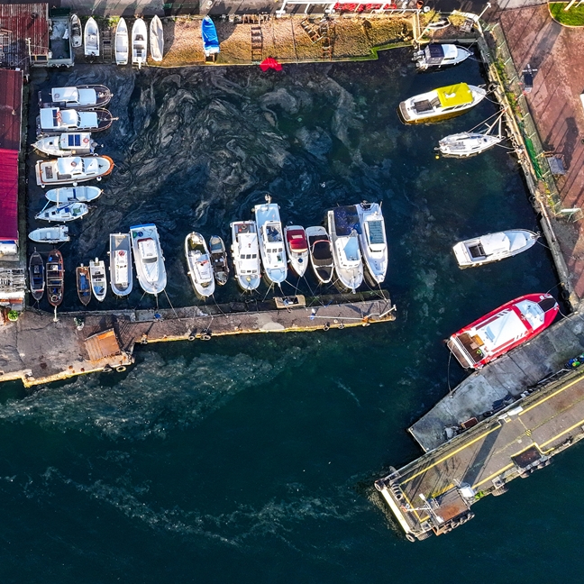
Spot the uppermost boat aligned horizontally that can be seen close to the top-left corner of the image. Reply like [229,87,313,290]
[34,82,115,109]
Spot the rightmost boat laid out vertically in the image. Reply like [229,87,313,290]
[354,197,391,298]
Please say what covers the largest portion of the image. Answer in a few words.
water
